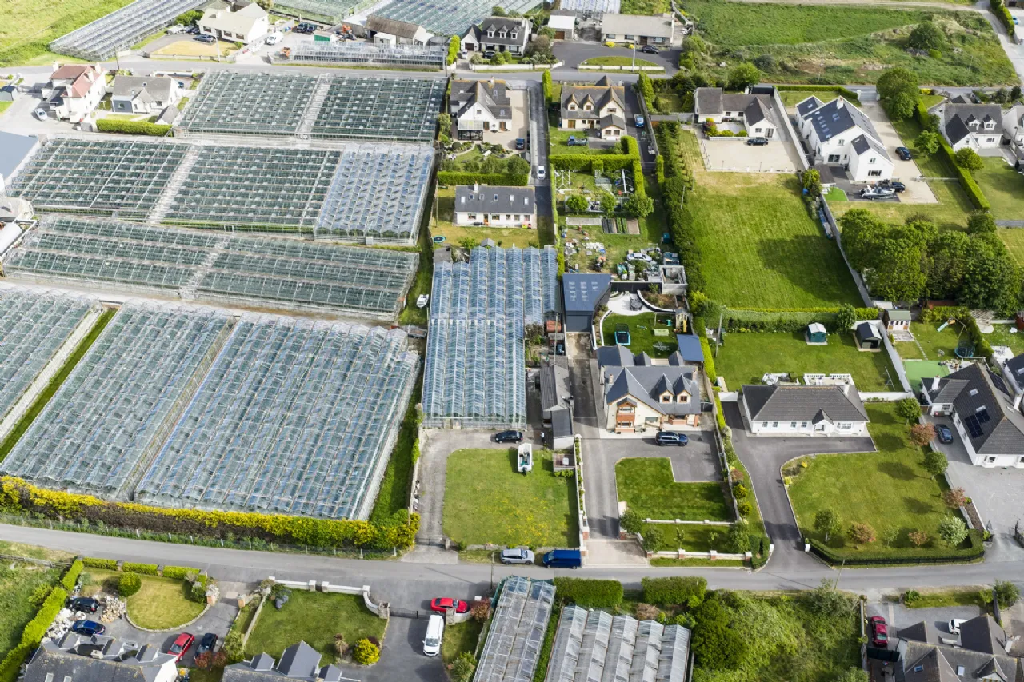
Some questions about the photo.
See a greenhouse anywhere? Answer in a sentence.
Yes, a greenhouse can be made out from above.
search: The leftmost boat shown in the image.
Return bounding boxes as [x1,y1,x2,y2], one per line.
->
[416,291,429,310]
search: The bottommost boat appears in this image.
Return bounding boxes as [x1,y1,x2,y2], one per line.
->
[516,439,533,471]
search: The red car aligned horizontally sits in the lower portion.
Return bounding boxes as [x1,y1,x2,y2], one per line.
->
[428,595,469,613]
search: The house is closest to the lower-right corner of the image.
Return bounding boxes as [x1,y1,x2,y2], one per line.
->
[890,611,1023,682]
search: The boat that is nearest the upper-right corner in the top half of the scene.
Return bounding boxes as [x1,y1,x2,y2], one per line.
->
[859,185,896,198]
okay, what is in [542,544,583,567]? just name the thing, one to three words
vehicle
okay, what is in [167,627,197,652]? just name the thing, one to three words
car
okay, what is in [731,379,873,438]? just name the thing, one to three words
house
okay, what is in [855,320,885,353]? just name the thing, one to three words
shed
